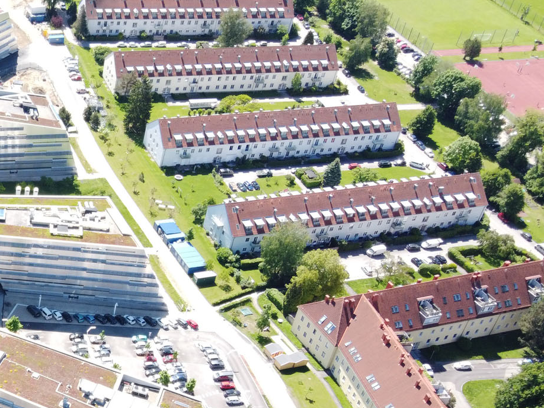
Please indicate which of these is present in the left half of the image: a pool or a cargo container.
cargo container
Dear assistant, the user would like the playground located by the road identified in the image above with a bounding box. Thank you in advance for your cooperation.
[234,305,284,337]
